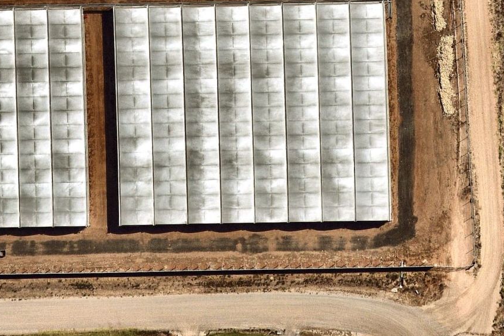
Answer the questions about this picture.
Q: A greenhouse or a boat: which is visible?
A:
greenhouse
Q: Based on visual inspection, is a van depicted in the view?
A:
No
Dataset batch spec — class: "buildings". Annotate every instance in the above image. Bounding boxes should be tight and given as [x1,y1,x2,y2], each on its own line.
[0,7,88,229]
[114,2,392,227]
